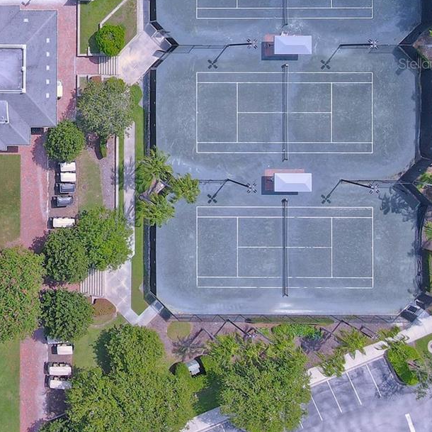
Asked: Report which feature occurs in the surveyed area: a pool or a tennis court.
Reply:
tennis court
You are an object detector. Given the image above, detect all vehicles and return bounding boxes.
[55,182,75,193]
[56,171,75,182]
[42,329,61,342]
[56,161,75,172]
[53,193,73,205]
[47,373,71,389]
[56,82,63,99]
[52,215,75,226]
[47,360,71,374]
[54,340,73,353]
